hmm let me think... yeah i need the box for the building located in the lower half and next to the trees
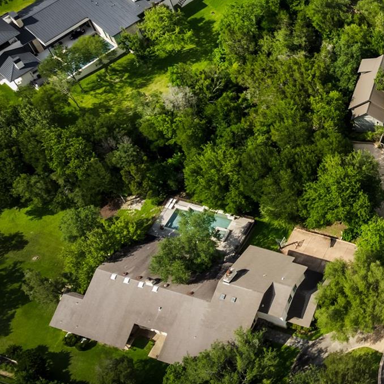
[50,238,330,369]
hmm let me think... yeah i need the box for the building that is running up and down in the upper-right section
[349,54,384,130]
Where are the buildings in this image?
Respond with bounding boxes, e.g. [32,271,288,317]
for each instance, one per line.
[50,238,330,369]
[0,0,181,92]
[349,54,384,130]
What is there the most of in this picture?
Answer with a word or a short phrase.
trees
